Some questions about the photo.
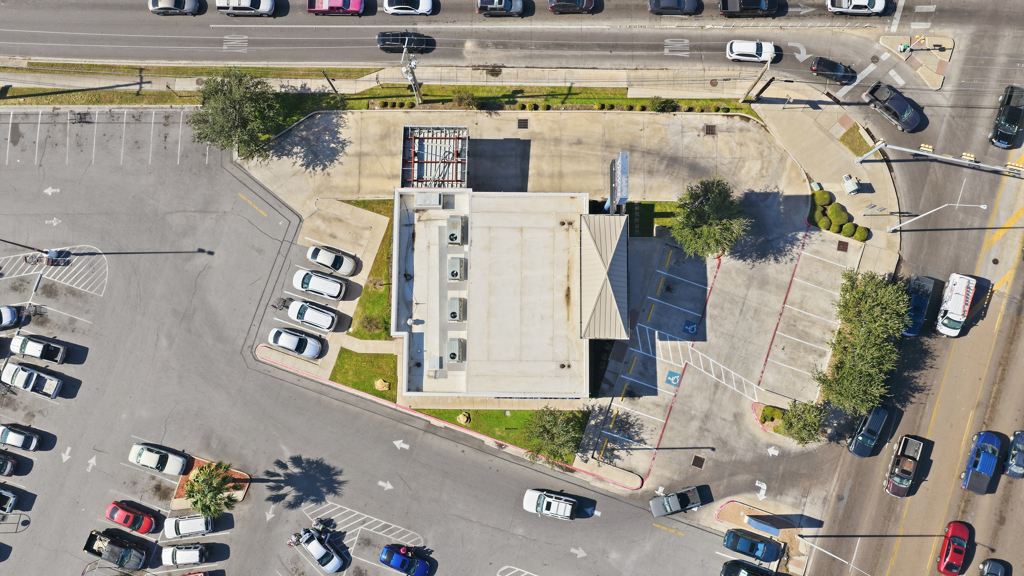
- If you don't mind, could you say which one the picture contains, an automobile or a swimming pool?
automobile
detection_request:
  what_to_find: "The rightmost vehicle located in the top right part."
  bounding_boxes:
[990,85,1024,150]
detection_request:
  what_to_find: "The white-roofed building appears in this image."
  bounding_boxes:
[391,188,631,400]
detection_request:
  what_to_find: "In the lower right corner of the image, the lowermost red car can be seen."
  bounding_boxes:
[935,519,970,576]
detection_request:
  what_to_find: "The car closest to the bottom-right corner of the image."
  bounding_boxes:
[979,556,1005,576]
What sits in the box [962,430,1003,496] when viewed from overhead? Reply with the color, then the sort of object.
blue truck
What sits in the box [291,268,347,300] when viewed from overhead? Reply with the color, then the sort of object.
white car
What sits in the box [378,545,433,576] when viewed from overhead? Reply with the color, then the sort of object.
blue car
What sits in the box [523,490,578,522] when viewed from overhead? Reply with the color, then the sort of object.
white car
